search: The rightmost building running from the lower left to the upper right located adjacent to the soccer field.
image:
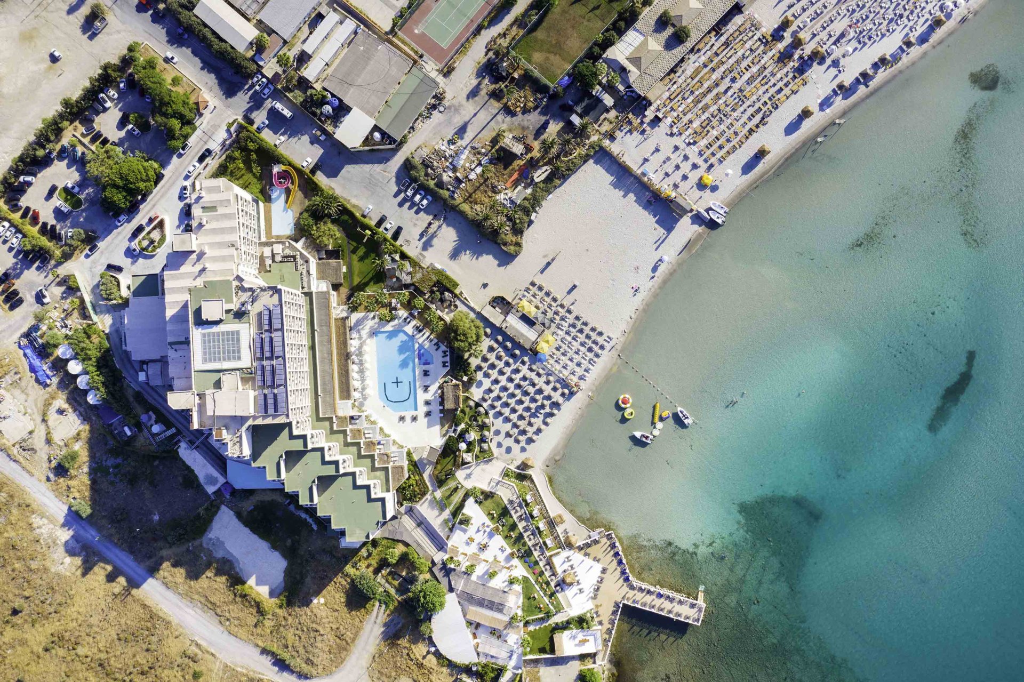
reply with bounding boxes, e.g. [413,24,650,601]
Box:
[603,0,738,98]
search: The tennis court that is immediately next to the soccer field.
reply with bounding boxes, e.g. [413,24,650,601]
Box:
[394,0,497,66]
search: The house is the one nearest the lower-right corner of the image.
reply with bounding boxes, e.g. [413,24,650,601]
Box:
[553,624,602,655]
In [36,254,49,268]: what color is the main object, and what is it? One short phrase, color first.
black vehicle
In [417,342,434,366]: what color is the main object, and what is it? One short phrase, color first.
blue swimming pool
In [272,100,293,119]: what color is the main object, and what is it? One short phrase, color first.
white vehicle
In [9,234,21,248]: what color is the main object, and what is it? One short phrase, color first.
white vehicle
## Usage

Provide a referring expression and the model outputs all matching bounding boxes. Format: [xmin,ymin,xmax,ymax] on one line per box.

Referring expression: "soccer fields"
[512,0,631,86]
